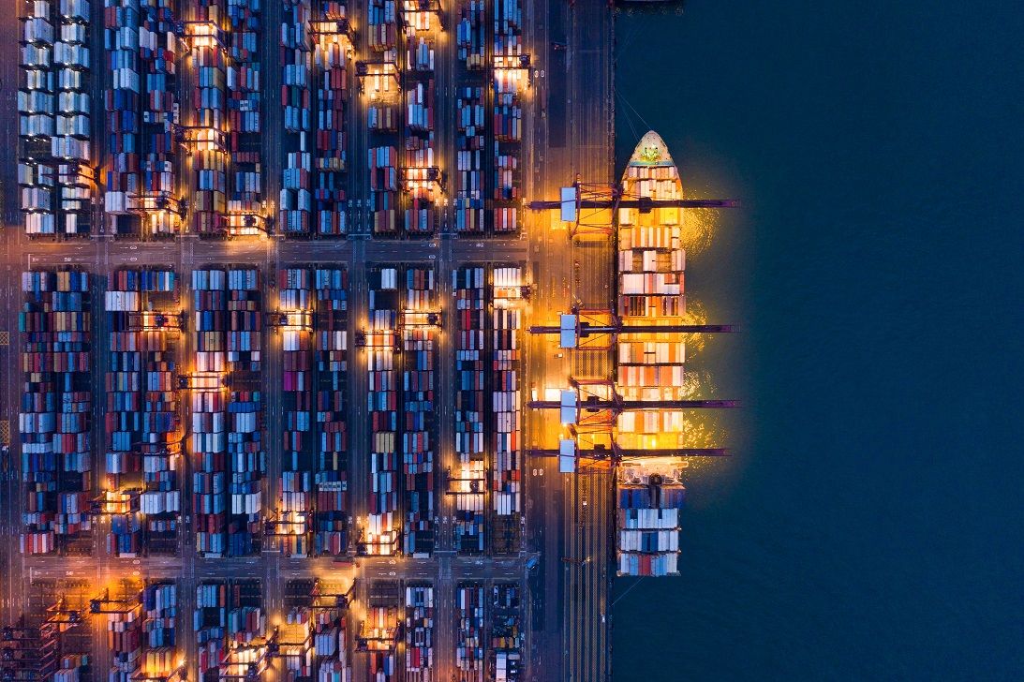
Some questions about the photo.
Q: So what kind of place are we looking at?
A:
port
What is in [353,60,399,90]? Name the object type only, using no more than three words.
container crane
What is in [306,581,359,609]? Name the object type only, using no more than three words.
container crane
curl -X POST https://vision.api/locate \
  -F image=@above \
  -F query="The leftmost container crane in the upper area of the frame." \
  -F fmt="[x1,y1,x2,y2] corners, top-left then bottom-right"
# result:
[35,161,100,186]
